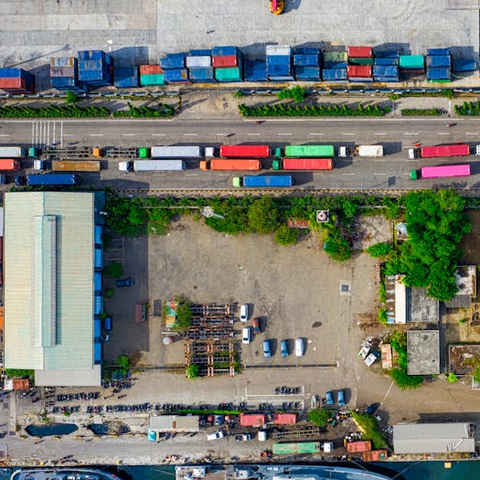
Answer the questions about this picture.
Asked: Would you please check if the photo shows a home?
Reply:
Yes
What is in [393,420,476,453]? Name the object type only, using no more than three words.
hangar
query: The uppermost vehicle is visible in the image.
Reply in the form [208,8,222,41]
[269,0,286,13]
